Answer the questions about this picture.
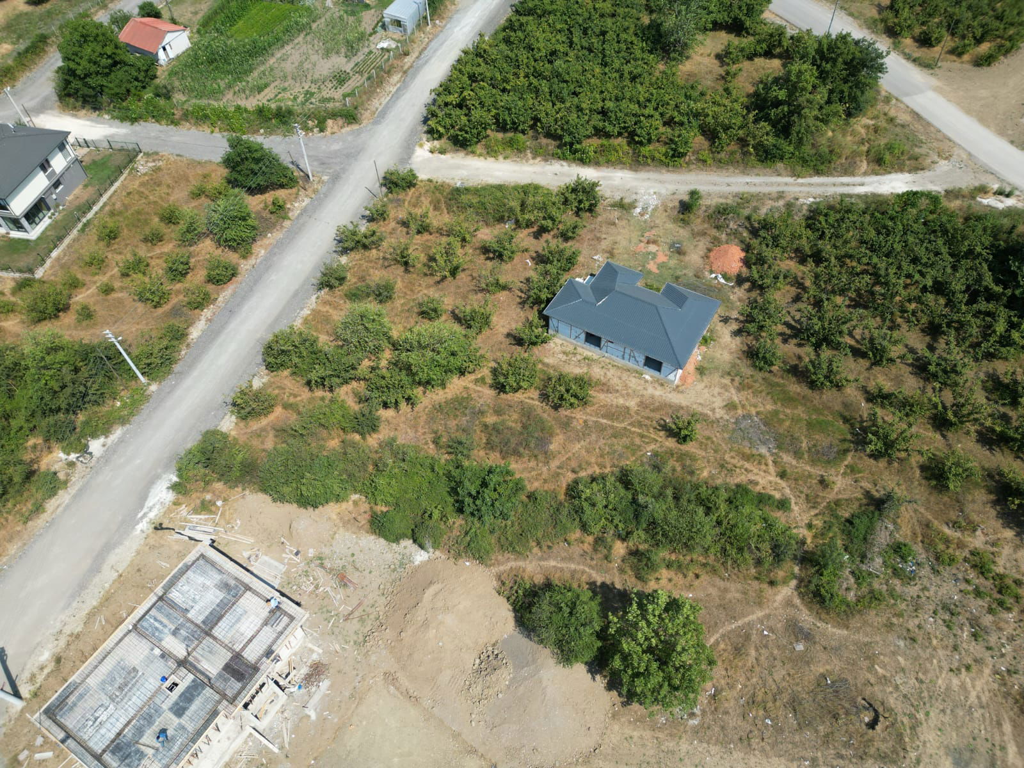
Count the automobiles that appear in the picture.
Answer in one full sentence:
There are no automobiles in this view.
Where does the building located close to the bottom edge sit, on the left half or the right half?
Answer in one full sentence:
You can find the building located close to the bottom edge on the left side of the picture.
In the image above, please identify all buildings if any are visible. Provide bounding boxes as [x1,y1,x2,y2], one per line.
[543,259,718,385]
[0,117,84,240]
[120,14,194,67]
[382,0,441,36]
[29,537,325,768]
